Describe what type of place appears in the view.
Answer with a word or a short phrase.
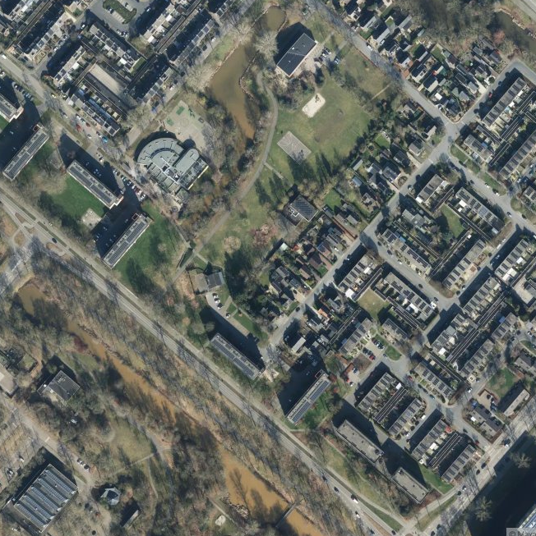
residential area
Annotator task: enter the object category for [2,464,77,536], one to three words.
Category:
building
